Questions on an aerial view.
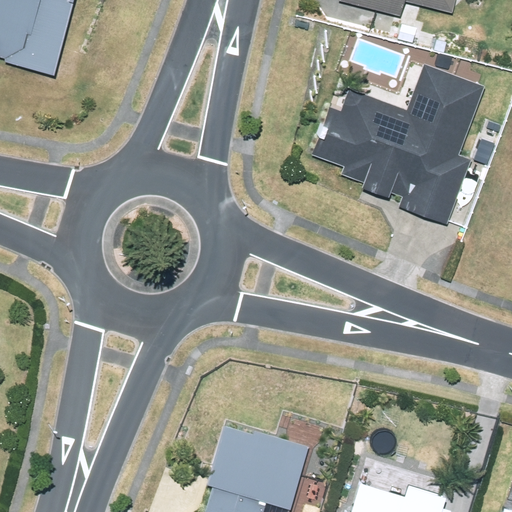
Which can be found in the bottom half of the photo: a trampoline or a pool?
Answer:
trampoline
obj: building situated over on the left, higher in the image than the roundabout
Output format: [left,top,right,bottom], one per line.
[0,0,76,76]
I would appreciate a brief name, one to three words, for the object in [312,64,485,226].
house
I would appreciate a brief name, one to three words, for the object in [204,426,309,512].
house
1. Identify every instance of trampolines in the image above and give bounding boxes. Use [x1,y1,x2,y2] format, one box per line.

[370,428,396,455]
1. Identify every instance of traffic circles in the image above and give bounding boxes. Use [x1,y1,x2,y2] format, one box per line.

[42,127,274,364]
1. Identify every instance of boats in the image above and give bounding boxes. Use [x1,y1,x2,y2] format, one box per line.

[458,169,480,211]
